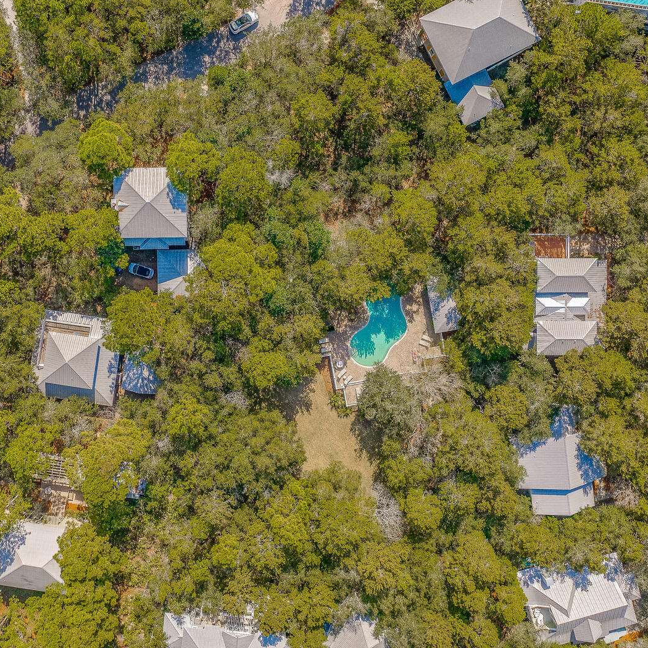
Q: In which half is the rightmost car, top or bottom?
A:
top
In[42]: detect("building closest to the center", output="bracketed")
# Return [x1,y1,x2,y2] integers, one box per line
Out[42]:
[424,276,458,333]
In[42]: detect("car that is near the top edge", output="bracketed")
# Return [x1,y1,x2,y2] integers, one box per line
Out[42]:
[230,10,260,31]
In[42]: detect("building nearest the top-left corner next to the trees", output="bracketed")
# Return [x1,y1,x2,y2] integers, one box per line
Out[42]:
[110,167,190,249]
